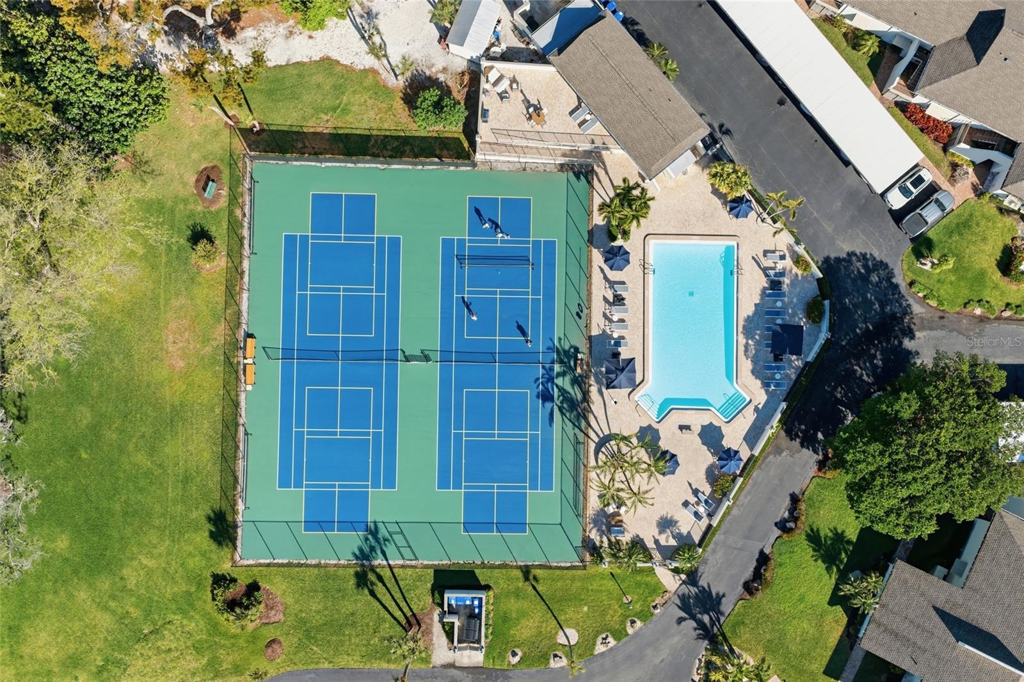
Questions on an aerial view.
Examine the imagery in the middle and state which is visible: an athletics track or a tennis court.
tennis court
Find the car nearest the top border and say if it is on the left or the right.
right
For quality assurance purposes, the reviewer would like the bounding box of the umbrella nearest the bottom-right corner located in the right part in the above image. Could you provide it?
[716,447,742,474]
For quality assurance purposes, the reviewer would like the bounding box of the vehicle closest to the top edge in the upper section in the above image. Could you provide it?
[883,166,931,210]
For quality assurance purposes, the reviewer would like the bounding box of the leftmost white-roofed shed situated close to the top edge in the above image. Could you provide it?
[446,0,501,65]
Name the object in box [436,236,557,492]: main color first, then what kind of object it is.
blue tennis court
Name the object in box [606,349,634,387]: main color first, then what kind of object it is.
blue umbrella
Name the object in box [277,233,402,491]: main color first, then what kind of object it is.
blue tennis court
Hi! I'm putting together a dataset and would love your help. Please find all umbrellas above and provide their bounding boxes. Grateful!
[771,324,801,364]
[606,349,634,387]
[652,448,679,476]
[603,245,630,271]
[728,194,753,220]
[716,447,742,474]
